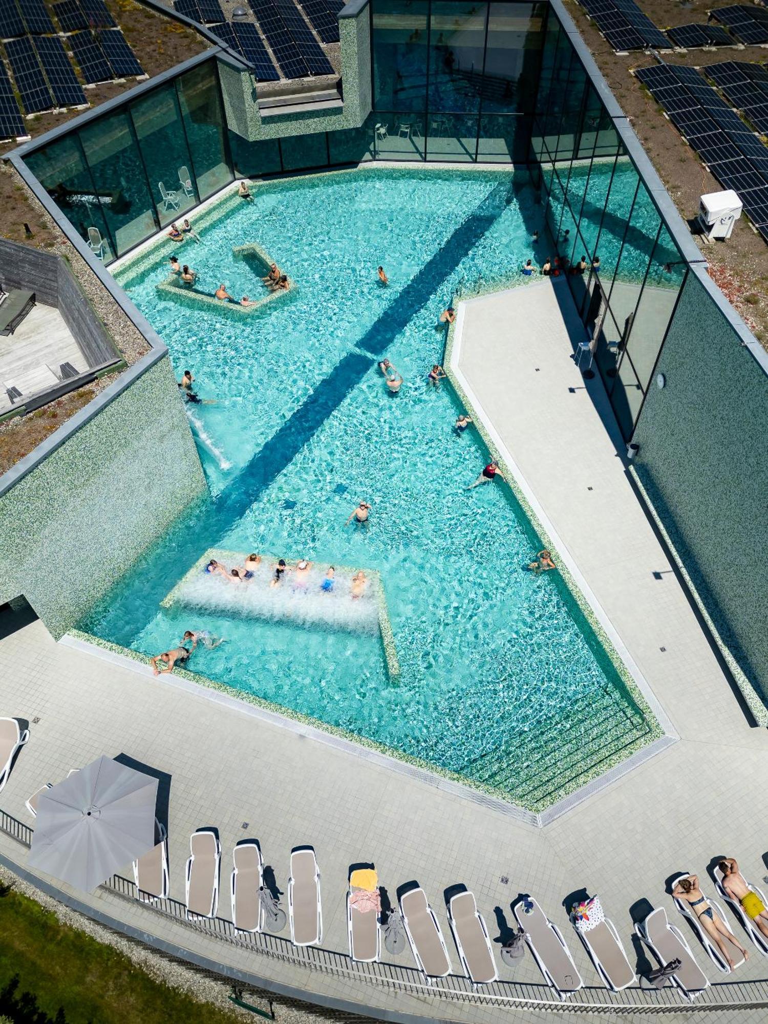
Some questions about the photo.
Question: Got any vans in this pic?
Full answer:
No, this view has no van in it.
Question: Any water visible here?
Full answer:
Yes, some water is visible.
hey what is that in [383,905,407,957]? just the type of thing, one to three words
umbrella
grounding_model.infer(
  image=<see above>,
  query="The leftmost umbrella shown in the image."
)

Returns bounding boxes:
[29,755,159,893]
